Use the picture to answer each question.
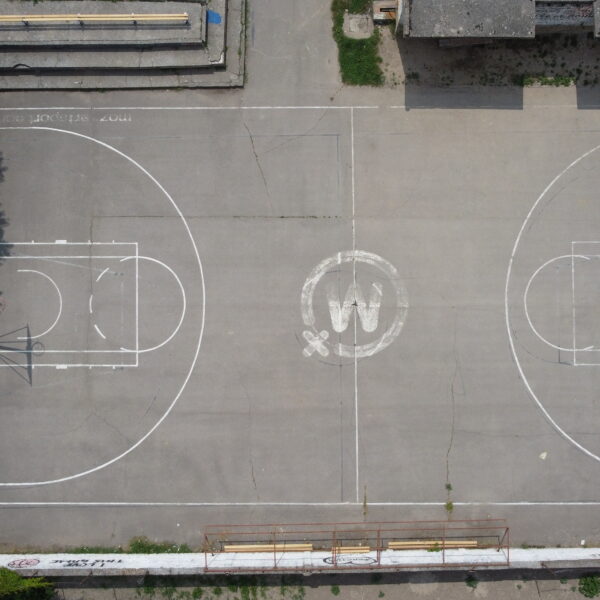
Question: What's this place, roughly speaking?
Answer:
sports ground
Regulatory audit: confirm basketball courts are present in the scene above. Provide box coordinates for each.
[0,107,600,514]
